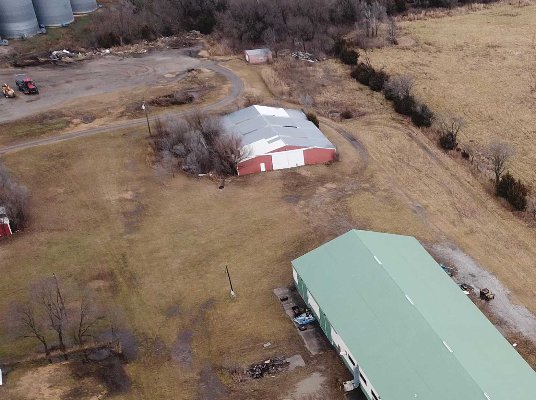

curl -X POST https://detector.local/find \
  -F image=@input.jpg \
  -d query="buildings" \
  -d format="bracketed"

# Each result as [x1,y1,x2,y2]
[206,105,337,176]
[0,212,11,235]
[289,228,536,400]
[247,50,270,65]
